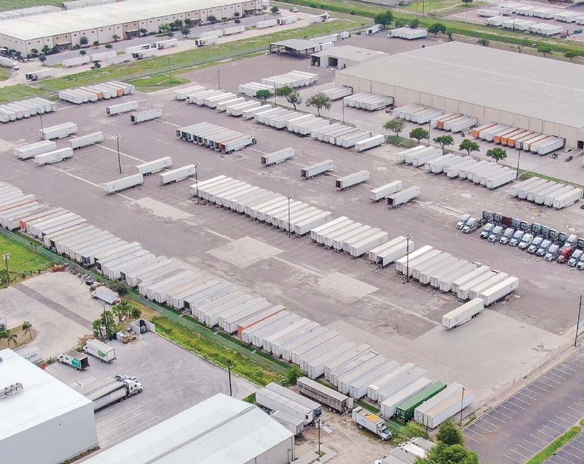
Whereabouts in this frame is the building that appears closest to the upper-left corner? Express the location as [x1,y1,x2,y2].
[0,0,262,57]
